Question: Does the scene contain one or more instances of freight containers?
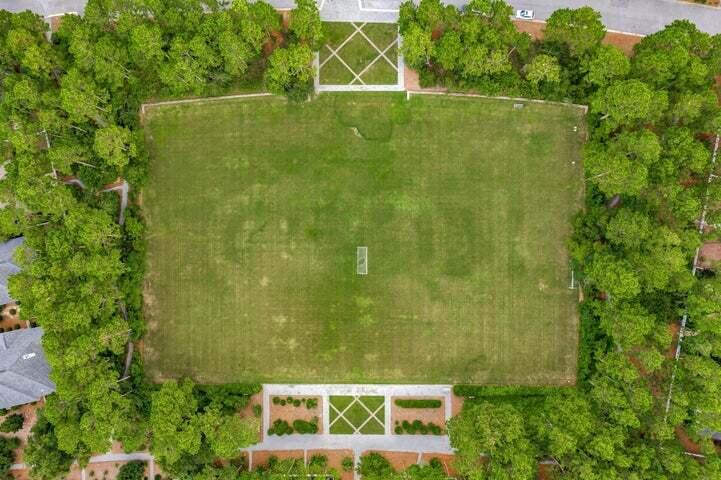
No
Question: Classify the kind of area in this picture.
sports ground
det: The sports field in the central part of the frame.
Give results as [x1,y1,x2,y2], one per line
[142,91,588,384]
